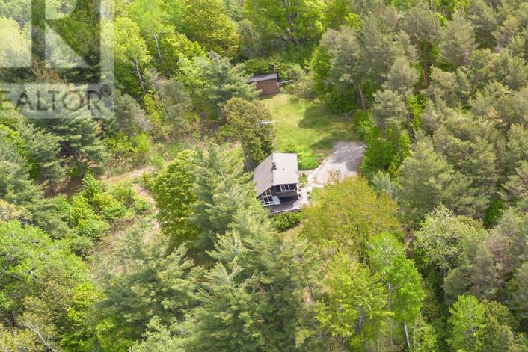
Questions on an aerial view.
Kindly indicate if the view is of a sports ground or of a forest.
forest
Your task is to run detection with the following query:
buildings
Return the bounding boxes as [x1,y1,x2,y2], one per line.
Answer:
[253,152,305,216]
[246,70,282,98]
